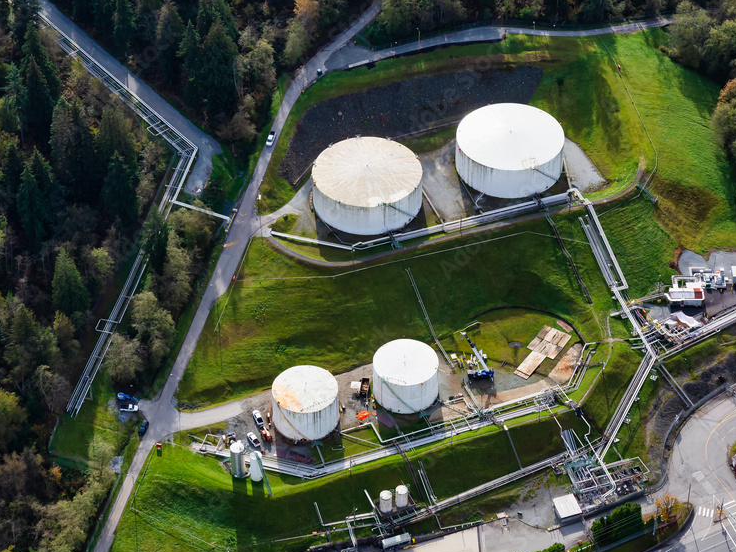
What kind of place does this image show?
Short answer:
industrial area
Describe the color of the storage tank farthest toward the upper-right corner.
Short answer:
white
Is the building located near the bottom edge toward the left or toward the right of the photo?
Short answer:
right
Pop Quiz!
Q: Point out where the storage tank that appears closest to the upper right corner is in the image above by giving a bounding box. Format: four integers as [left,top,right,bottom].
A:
[459,105,571,204]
